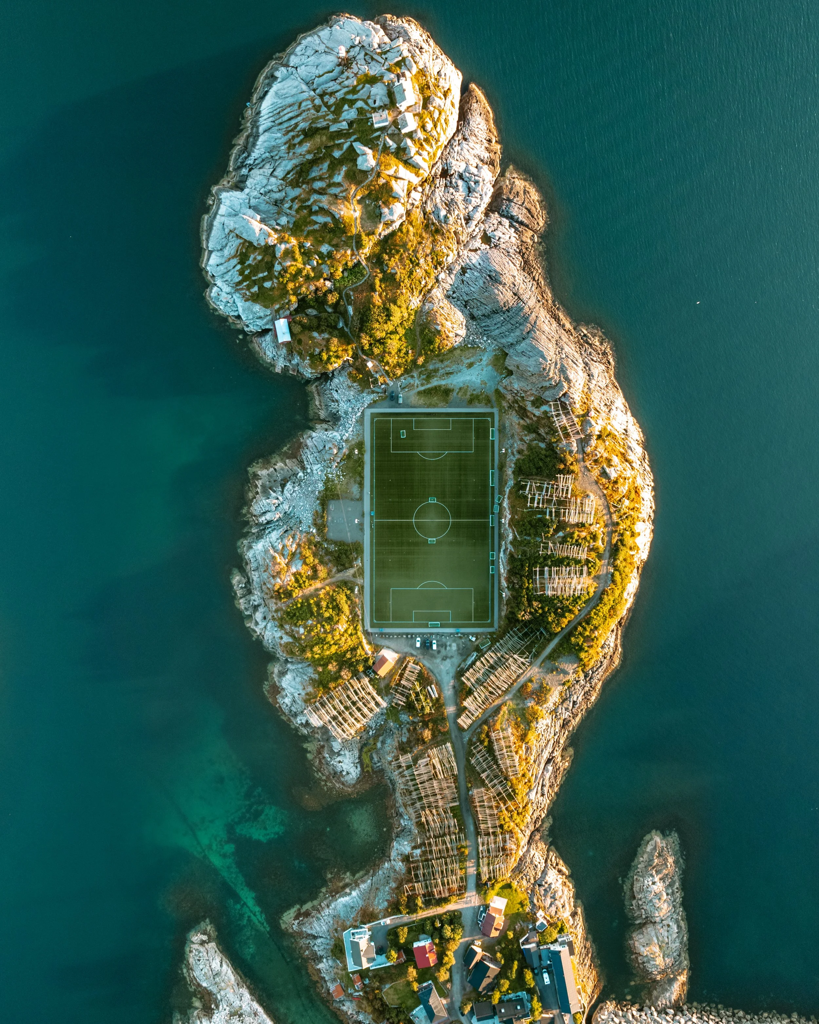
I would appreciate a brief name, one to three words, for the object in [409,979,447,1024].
house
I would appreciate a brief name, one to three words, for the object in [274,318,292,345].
shed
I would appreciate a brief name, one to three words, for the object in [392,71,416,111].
house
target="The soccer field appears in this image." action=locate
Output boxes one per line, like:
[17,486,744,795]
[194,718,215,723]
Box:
[370,412,494,628]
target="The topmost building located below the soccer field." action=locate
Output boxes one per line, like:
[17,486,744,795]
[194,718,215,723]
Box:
[371,648,398,678]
